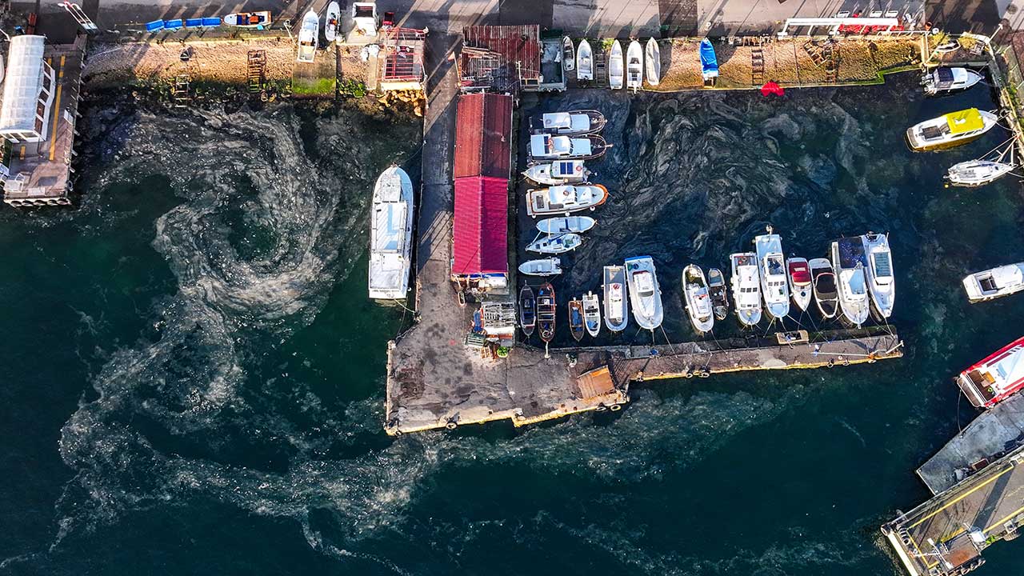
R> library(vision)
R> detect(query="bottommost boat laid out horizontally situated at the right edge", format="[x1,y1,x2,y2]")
[958,265,1024,302]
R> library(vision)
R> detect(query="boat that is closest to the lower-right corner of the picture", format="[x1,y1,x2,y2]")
[955,336,1024,408]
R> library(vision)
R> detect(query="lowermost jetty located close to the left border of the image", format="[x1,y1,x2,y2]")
[0,44,86,203]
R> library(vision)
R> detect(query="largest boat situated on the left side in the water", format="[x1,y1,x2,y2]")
[368,164,417,305]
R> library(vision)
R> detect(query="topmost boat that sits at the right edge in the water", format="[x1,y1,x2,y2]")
[920,69,984,96]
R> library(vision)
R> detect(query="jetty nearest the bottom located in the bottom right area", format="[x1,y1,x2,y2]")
[876,448,1024,576]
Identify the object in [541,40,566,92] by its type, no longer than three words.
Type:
ship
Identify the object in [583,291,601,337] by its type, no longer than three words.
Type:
boat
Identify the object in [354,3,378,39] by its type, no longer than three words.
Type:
boat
